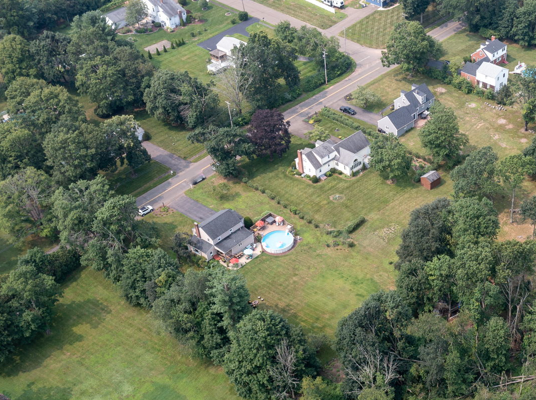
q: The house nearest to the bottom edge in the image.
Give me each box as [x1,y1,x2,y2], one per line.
[184,206,253,261]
